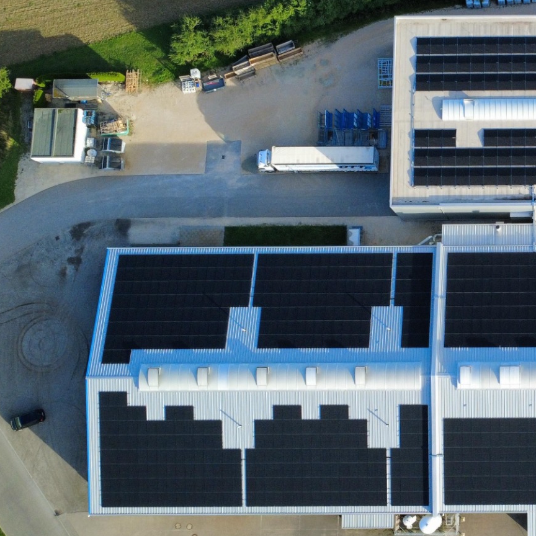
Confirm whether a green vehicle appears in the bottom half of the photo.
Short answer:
No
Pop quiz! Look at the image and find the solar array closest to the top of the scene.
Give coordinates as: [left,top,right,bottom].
[414,36,536,93]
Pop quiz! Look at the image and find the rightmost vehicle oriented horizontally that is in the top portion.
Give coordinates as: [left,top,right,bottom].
[257,145,383,173]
